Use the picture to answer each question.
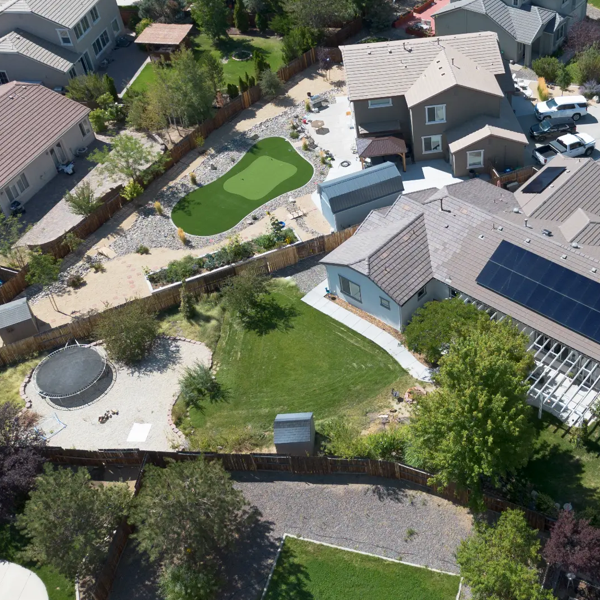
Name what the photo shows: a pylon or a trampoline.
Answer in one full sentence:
The image shows a trampoline.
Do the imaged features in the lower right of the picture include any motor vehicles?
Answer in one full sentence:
No, I see no motor vehicle in the lower right of the picture.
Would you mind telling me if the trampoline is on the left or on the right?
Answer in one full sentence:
The trampoline is on the left side of the image.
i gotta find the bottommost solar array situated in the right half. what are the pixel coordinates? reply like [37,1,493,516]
[476,240,600,343]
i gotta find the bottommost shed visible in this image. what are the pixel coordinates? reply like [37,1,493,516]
[272,412,320,465]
